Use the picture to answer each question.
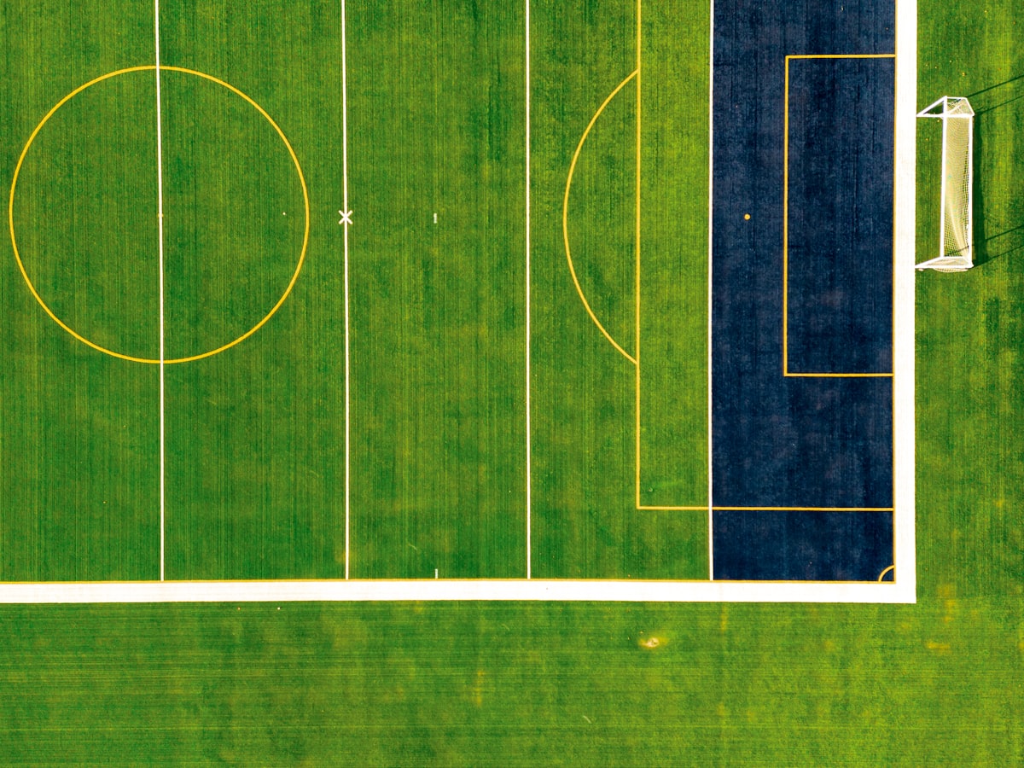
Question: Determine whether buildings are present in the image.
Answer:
No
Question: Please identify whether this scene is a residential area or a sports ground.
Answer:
sports ground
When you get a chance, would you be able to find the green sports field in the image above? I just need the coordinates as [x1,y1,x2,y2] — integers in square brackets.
[0,0,897,584]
